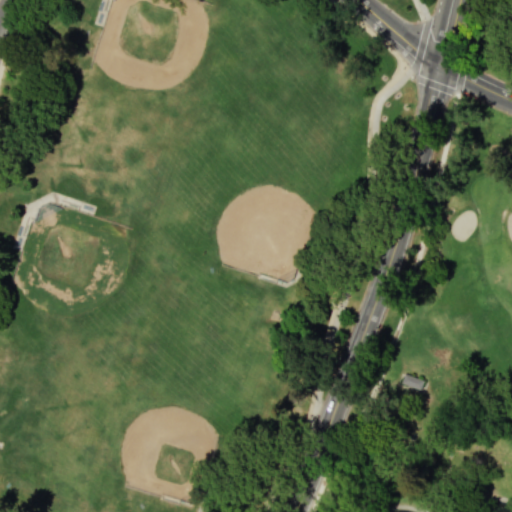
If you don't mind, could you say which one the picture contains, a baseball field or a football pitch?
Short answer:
baseball field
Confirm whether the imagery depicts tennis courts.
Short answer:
No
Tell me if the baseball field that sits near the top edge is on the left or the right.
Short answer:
left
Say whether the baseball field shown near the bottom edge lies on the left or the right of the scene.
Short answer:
left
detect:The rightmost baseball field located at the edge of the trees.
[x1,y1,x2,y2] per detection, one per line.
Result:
[217,185,314,282]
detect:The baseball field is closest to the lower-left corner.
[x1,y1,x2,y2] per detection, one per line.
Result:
[122,406,218,502]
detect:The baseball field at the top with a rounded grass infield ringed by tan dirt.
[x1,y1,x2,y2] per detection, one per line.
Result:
[94,0,210,90]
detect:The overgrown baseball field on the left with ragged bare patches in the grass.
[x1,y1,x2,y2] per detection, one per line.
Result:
[16,205,132,315]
